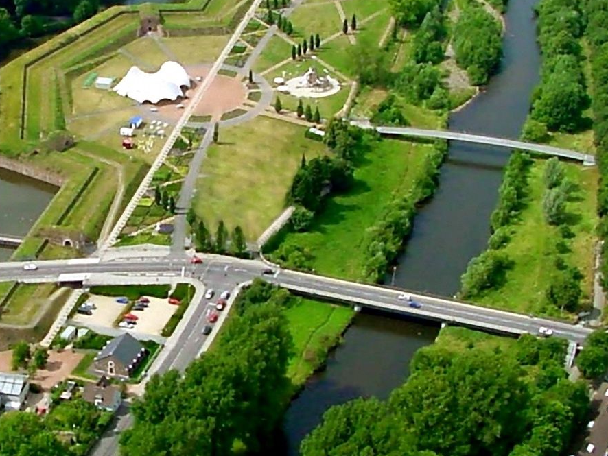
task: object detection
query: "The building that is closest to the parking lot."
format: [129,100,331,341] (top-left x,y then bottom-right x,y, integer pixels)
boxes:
[92,331,149,377]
